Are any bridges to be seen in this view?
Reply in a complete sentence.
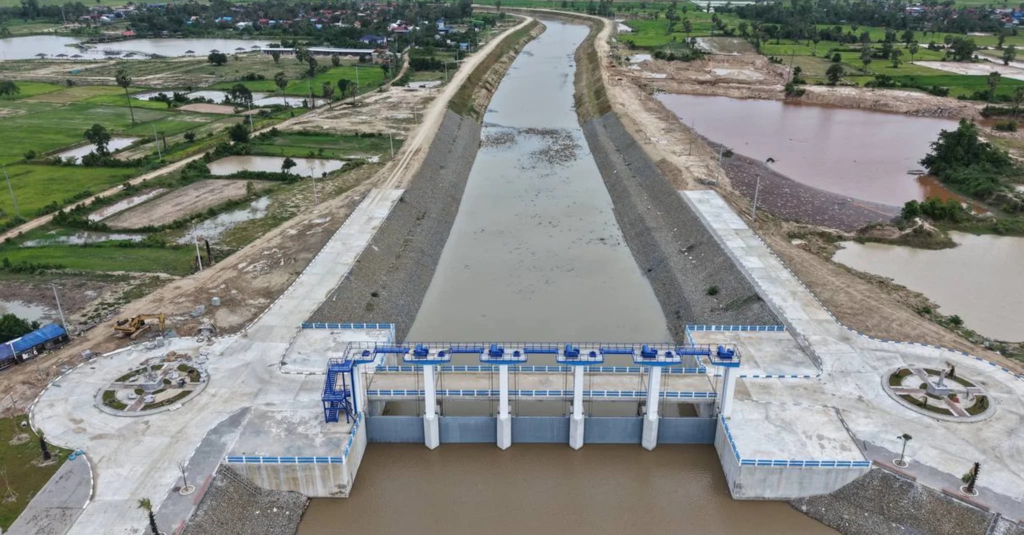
Yes, a bridge can be made out from above.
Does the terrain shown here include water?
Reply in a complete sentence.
Yes, some water is visible.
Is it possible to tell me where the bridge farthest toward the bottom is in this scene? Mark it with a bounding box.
[375,370,711,405]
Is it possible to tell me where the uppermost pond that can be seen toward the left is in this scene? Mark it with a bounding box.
[0,34,285,60]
